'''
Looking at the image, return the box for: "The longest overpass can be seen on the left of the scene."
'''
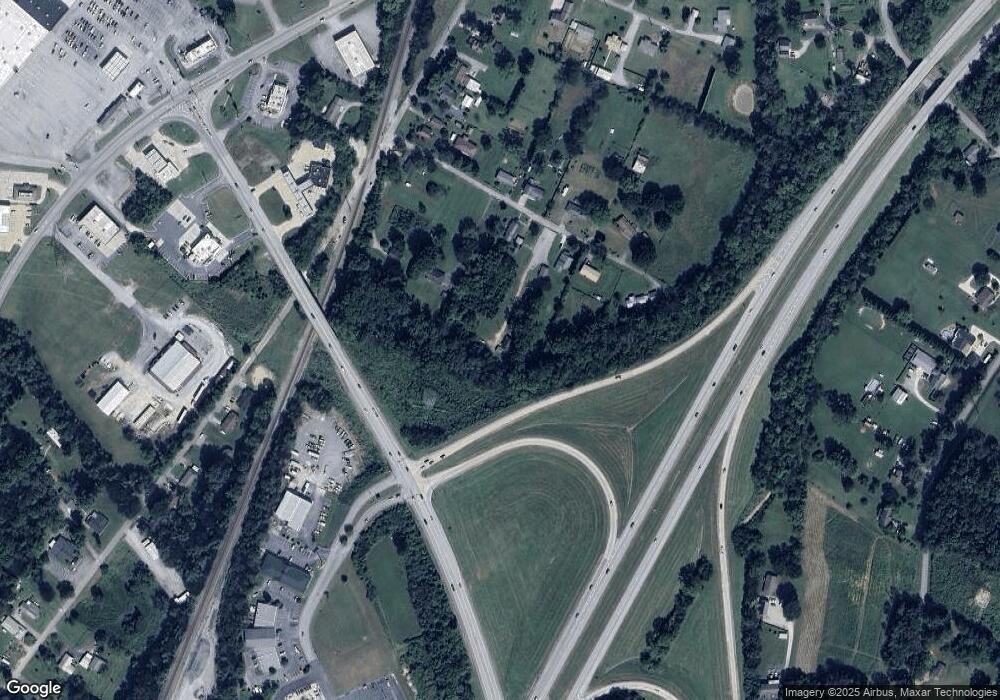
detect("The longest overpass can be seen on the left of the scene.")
[279,266,334,339]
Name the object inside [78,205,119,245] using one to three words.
building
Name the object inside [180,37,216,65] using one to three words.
building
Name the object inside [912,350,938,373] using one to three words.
house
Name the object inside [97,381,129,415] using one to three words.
barn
